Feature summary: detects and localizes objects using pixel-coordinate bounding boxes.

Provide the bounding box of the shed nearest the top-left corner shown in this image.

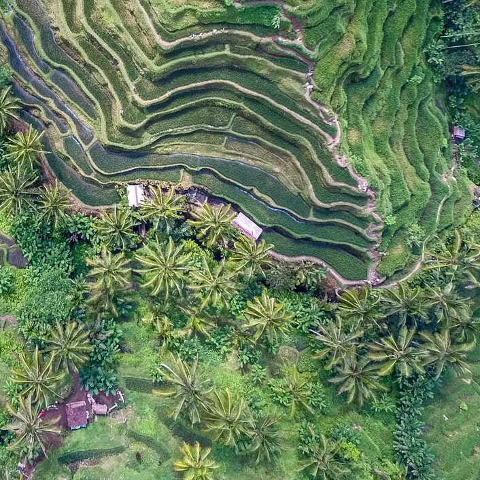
[127,184,144,206]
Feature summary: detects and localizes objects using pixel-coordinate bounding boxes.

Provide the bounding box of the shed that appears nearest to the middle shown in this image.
[229,212,263,240]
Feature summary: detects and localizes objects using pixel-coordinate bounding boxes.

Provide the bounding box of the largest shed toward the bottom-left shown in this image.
[65,397,90,430]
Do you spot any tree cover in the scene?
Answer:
Yes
